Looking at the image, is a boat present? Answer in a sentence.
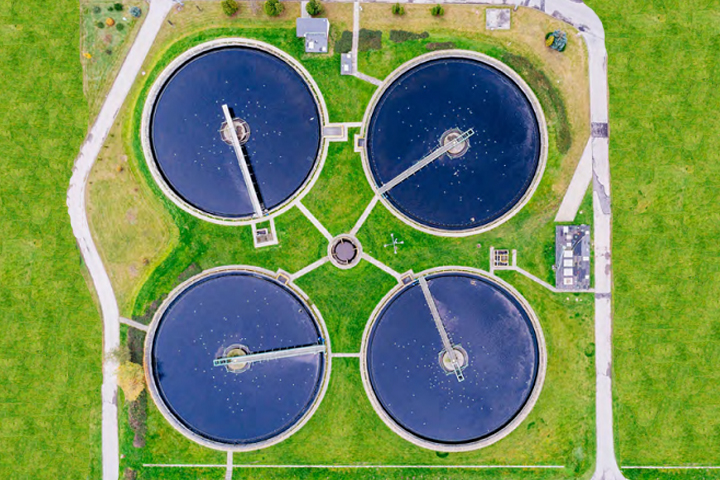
No, I can see no boat in this picture.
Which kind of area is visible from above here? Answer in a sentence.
The picture captures an industrial area.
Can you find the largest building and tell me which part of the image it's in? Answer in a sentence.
Look in the right portion of the view to spot the largest building.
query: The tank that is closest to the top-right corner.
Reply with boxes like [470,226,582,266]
[368,55,544,231]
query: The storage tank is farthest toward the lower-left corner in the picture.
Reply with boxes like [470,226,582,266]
[148,271,324,447]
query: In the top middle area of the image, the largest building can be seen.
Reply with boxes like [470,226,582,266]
[297,15,330,53]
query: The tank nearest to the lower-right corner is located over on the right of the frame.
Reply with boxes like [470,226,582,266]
[366,272,542,448]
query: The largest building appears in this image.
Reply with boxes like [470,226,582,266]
[555,225,591,290]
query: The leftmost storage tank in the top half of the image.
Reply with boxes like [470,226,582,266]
[146,43,322,219]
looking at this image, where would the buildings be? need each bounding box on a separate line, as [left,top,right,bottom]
[297,15,330,53]
[555,225,591,290]
[340,53,352,76]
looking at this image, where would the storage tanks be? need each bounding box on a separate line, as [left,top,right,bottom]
[366,272,542,448]
[148,271,324,447]
[146,43,322,219]
[368,55,544,231]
